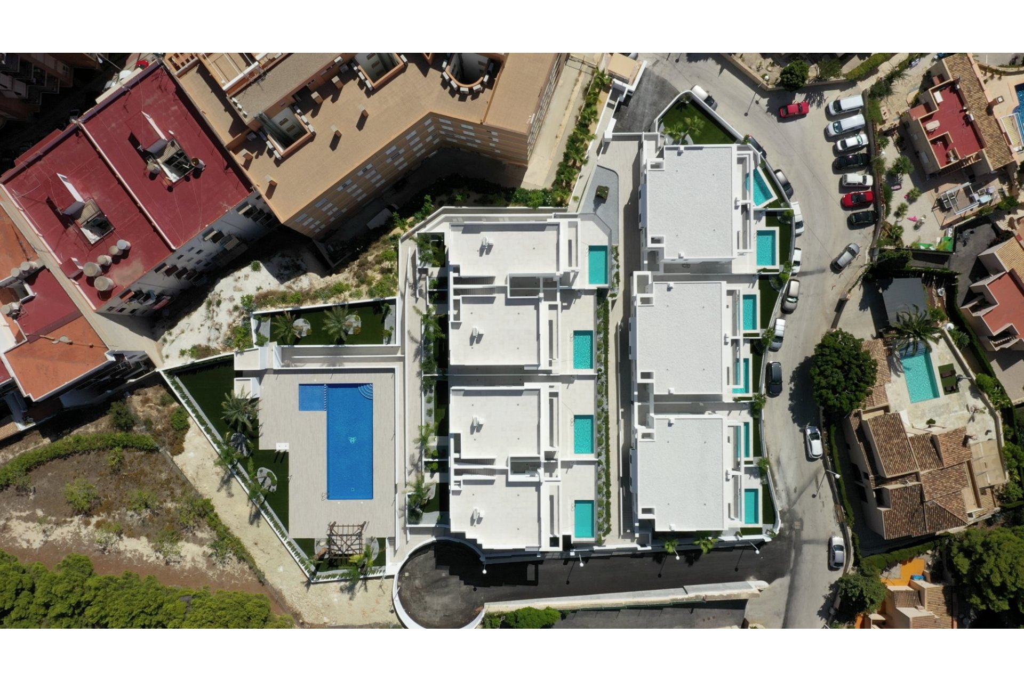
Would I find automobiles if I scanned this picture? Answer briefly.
Yes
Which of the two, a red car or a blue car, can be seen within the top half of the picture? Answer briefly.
red car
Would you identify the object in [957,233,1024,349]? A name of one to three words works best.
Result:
house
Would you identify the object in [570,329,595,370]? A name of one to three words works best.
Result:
swimming pool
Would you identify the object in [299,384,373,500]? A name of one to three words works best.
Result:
swimming pool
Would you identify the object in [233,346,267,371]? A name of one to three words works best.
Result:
building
